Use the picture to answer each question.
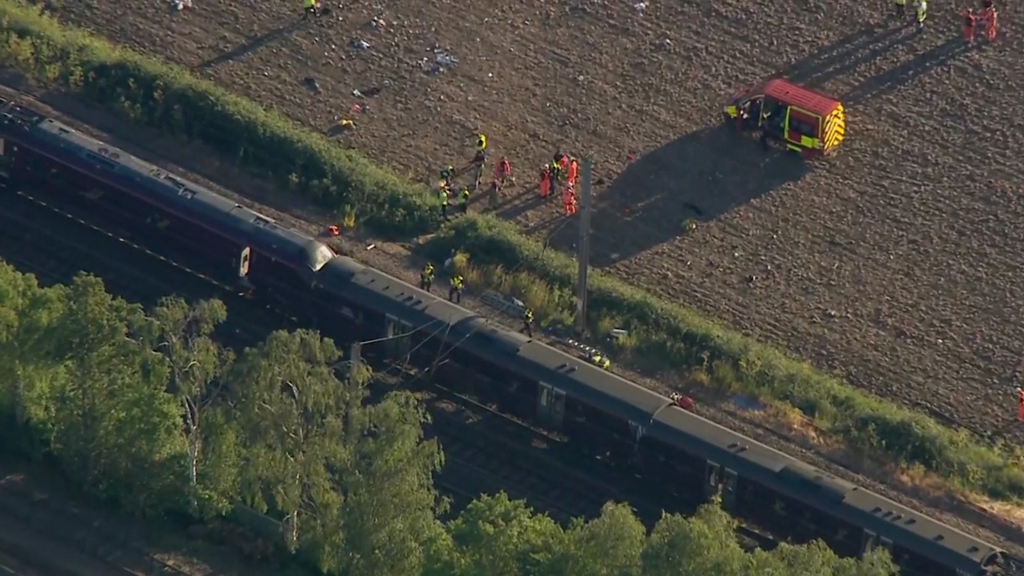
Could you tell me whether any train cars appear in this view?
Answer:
Yes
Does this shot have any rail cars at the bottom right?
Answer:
Yes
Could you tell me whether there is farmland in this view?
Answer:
Yes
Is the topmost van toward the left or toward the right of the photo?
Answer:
right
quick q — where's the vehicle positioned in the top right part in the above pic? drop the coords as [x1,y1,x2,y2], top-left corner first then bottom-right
[721,78,844,151]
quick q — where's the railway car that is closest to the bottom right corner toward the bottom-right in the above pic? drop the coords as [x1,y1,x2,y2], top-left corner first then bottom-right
[642,404,1004,576]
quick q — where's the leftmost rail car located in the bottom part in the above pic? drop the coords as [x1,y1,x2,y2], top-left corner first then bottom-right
[304,257,671,471]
